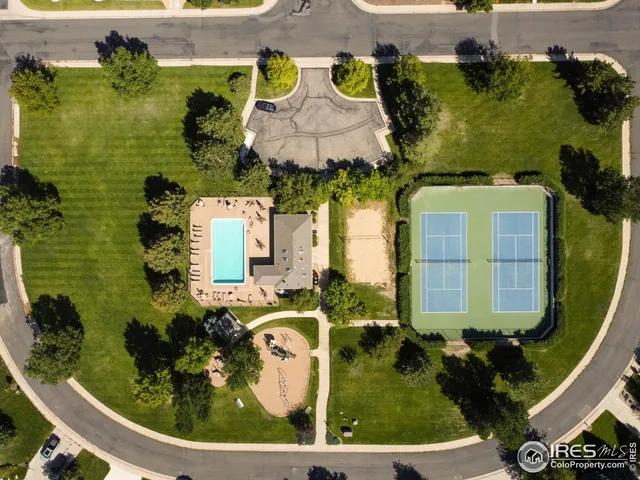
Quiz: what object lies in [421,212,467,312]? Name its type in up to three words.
tennis court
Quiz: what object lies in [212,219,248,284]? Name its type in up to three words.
swimming pool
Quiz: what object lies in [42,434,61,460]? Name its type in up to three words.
vehicle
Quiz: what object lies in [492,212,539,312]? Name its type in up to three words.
tennis court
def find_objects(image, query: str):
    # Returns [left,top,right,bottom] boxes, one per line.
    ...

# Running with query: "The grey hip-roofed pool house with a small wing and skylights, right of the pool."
[254,214,312,289]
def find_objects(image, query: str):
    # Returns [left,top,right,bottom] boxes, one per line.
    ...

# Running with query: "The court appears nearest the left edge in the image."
[341,197,401,303]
